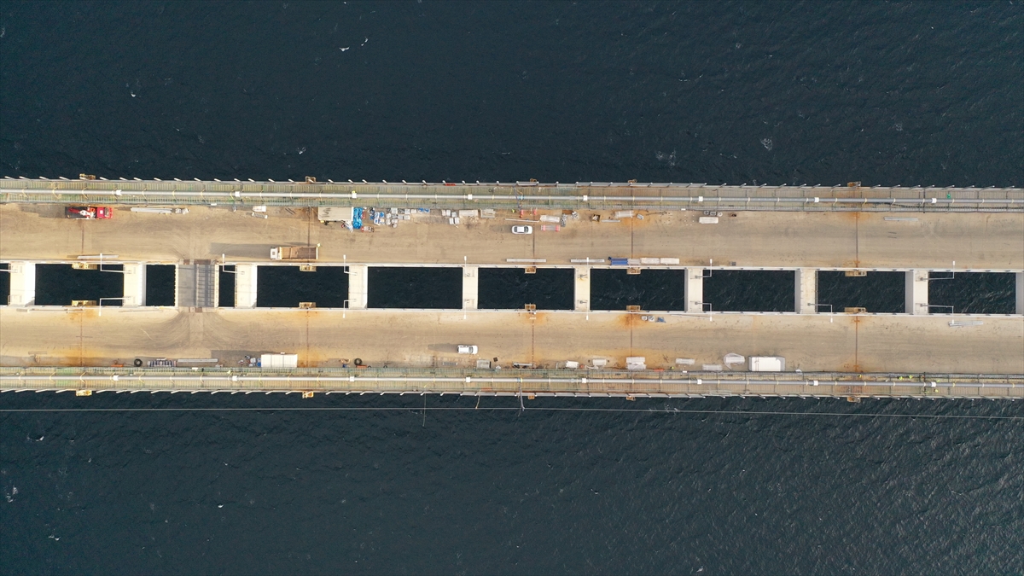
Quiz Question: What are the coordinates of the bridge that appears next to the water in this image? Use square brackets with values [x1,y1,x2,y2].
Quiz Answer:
[0,178,1024,400]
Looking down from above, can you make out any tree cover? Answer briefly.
No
